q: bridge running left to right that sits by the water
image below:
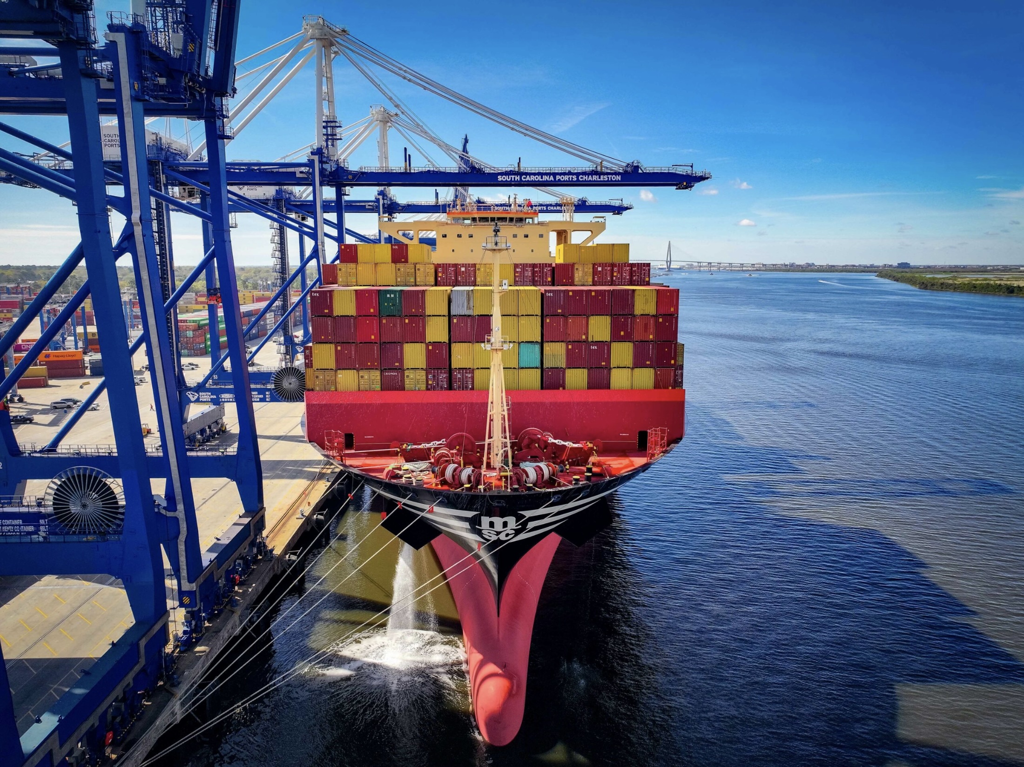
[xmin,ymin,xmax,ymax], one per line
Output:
[626,241,1010,270]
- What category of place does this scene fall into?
port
